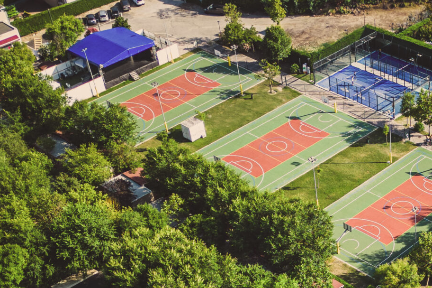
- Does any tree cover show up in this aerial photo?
Yes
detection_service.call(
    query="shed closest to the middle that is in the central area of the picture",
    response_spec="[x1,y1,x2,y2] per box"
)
[181,117,205,139]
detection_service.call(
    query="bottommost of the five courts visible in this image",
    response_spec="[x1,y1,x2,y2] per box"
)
[307,147,432,280]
